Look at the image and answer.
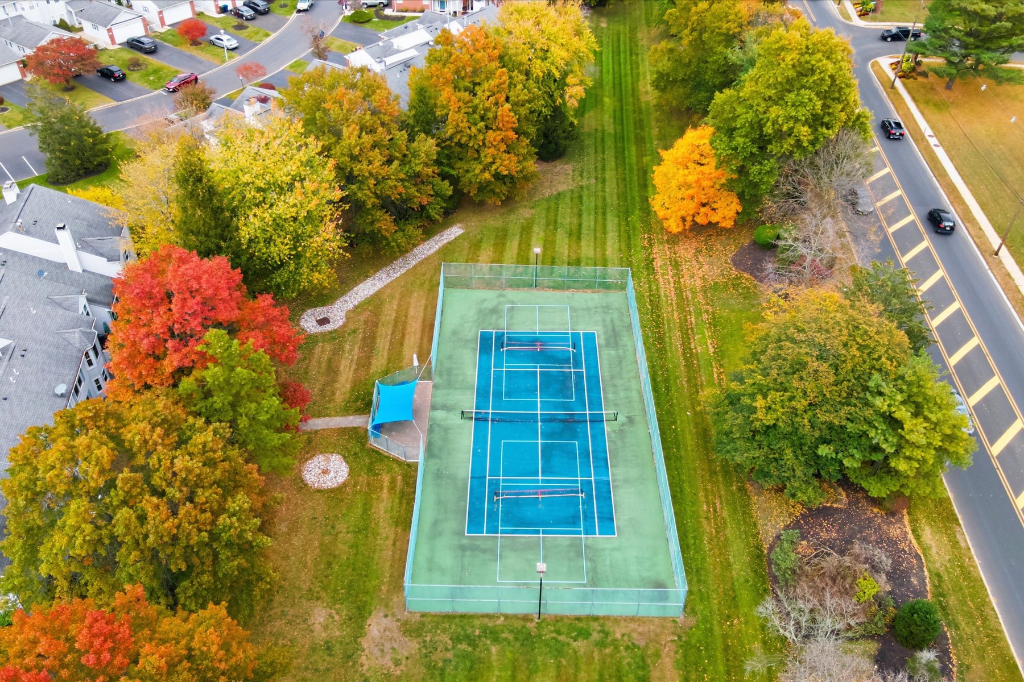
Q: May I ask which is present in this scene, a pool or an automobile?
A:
automobile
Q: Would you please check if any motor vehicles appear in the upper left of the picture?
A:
Yes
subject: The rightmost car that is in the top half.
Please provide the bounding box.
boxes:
[931,209,958,234]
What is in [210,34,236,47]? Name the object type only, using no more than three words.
vehicle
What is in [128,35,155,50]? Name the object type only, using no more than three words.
car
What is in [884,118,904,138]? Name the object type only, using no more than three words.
car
